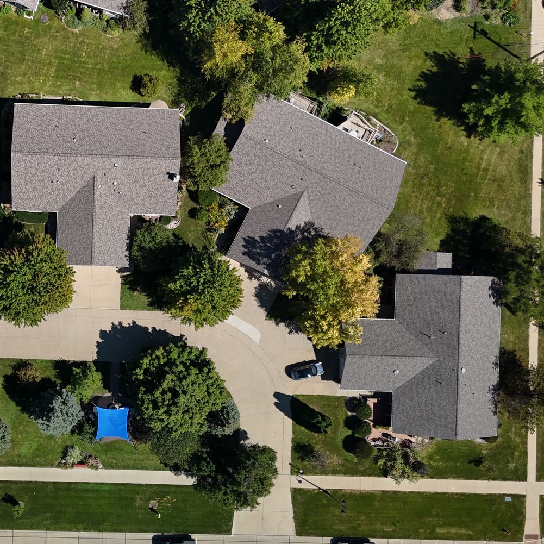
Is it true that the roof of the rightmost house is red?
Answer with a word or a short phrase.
No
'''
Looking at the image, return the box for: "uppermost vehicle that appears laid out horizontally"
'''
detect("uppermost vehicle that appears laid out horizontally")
[290,362,324,380]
